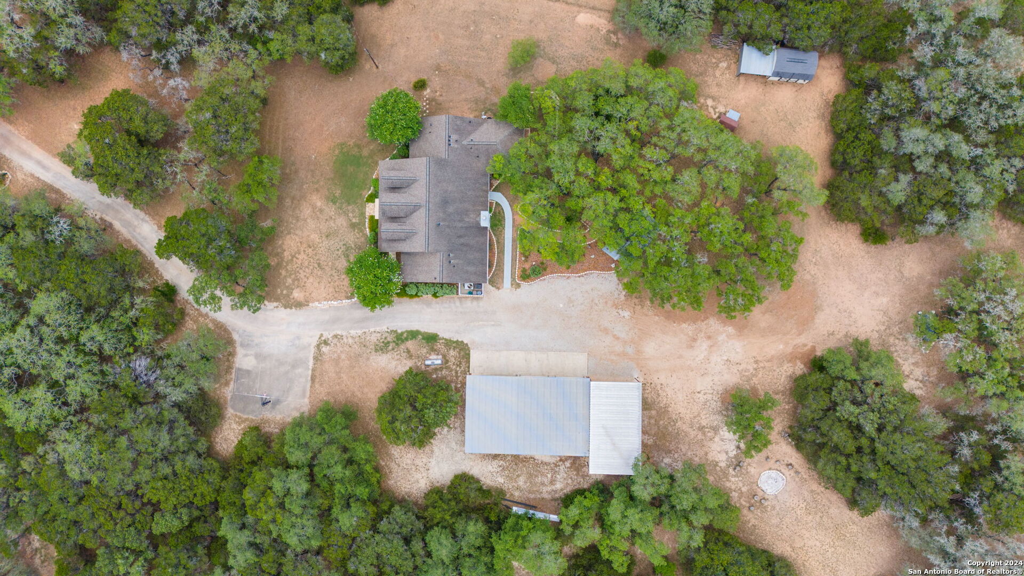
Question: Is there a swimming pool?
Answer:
No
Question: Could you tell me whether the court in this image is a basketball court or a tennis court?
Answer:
basketball court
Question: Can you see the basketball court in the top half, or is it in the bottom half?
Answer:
bottom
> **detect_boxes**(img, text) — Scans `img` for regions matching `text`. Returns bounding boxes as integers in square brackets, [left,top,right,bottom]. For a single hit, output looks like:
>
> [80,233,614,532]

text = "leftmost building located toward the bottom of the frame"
[465,373,590,457]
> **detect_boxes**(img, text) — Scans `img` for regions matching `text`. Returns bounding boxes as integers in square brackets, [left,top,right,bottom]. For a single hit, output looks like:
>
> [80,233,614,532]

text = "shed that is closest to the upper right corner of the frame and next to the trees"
[765,47,820,85]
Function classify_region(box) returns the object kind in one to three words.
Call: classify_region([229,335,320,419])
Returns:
basketball court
